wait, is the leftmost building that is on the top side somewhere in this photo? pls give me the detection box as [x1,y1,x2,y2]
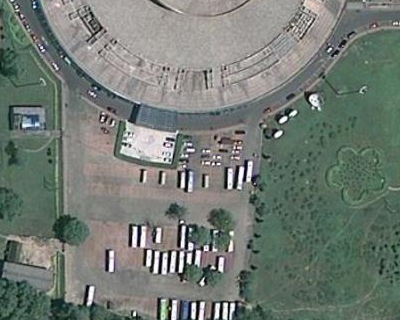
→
[10,108,46,130]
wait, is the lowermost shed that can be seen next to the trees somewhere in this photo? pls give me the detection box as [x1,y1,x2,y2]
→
[0,262,54,288]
